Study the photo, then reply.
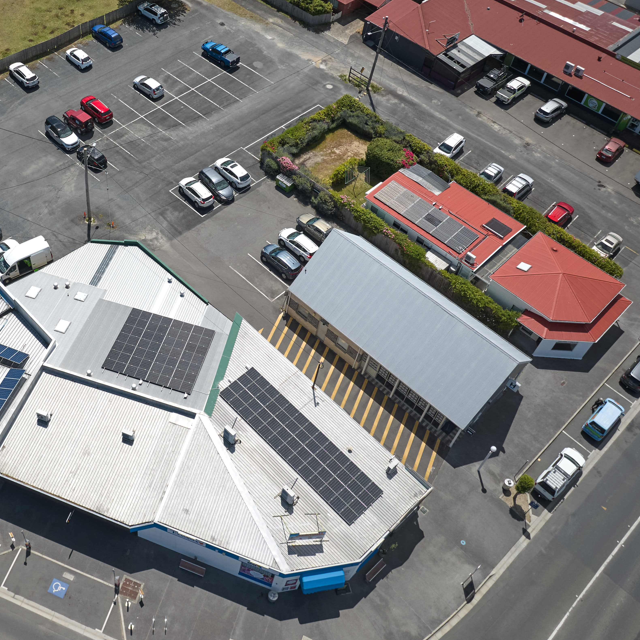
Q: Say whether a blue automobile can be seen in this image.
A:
Yes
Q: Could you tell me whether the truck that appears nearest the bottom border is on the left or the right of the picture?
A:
right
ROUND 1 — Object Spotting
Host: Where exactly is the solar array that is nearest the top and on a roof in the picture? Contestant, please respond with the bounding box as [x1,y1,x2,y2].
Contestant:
[375,181,478,253]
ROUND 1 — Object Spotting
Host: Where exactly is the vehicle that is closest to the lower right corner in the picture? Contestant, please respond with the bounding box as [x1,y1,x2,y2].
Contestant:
[530,440,593,504]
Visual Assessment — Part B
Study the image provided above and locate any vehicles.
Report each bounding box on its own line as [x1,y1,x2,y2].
[532,96,571,123]
[134,74,168,98]
[288,208,349,243]
[492,75,535,103]
[58,105,96,135]
[274,224,322,261]
[64,47,94,70]
[8,62,41,90]
[437,128,470,159]
[504,169,540,195]
[72,143,112,171]
[256,240,308,278]
[593,136,629,163]
[90,24,124,48]
[587,227,631,263]
[578,393,630,445]
[78,95,114,123]
[539,196,583,226]
[43,116,79,149]
[194,164,237,203]
[199,39,243,68]
[472,66,514,94]
[0,230,55,280]
[483,157,513,181]
[530,440,593,504]
[211,156,255,189]
[173,176,218,211]
[616,352,640,396]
